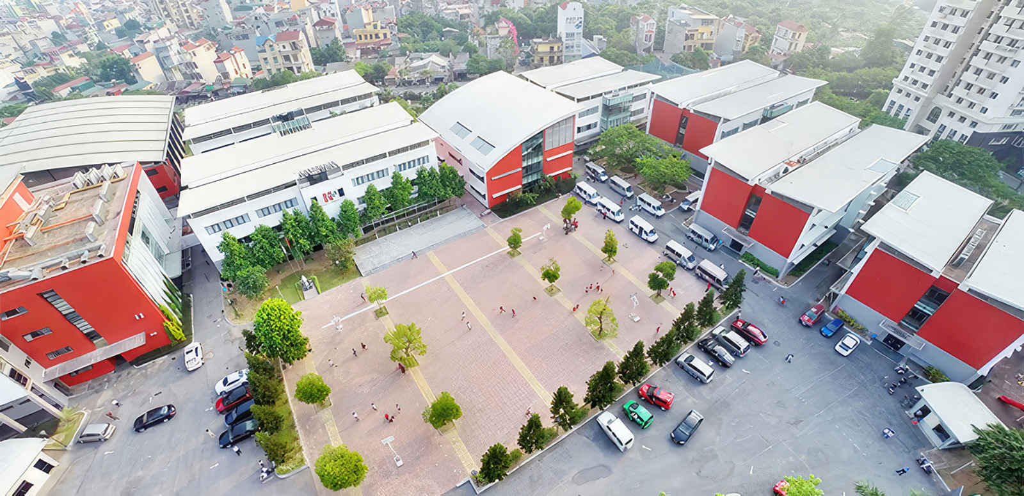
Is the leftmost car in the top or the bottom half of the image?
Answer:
bottom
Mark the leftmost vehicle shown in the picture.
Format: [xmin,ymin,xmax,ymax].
[75,423,118,446]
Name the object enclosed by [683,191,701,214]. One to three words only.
vehicle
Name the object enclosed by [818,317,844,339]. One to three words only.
car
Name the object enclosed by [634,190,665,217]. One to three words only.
vehicle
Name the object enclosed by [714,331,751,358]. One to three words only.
car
